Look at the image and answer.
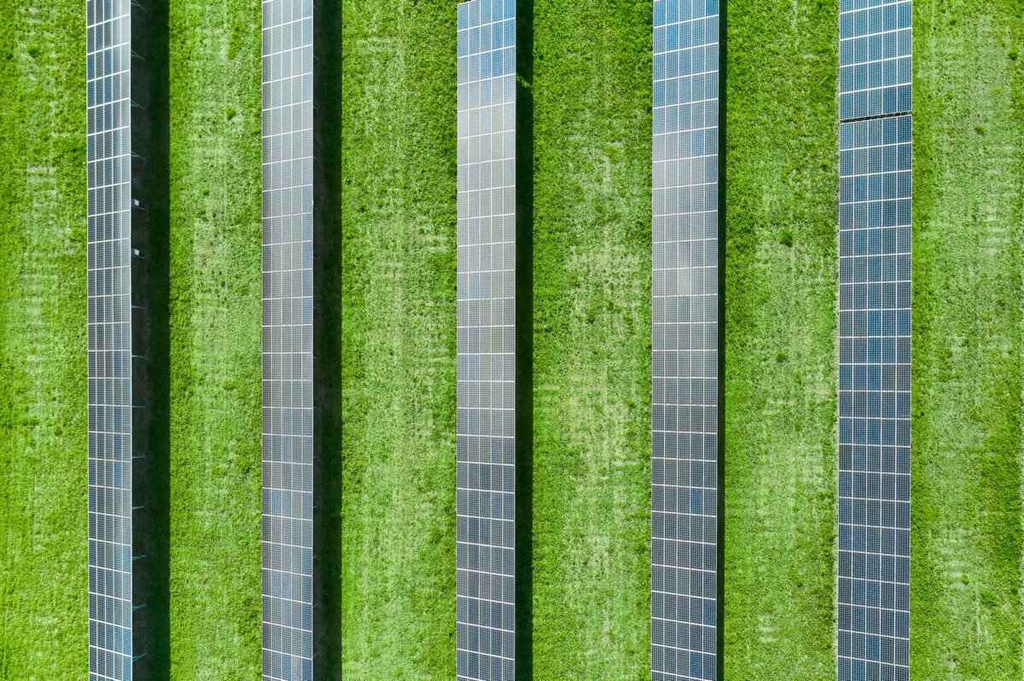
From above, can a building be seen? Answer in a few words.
No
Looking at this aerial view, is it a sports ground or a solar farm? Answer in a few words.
solar farm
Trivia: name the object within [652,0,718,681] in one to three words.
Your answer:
solar array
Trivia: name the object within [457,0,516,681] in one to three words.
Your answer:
solar array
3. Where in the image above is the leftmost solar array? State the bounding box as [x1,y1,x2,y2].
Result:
[87,0,145,681]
